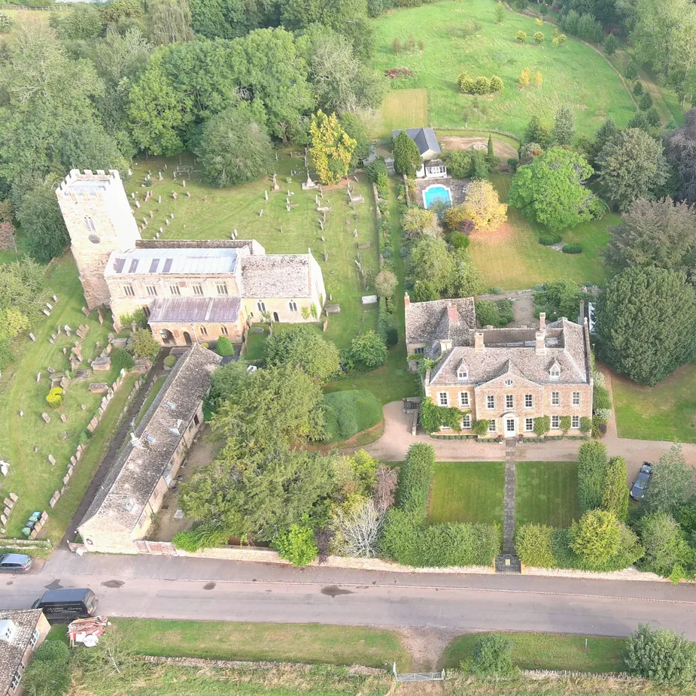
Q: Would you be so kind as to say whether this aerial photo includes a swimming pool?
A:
Yes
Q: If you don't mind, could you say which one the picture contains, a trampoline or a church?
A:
church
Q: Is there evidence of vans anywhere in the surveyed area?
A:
Yes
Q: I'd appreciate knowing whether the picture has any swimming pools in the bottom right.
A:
No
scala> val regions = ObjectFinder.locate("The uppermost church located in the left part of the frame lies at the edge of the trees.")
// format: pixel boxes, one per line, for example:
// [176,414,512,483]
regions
[48,161,334,348]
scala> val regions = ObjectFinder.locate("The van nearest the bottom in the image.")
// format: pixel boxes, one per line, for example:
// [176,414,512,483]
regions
[36,591,94,621]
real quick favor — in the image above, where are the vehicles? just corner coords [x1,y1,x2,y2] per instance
[36,591,94,621]
[631,464,654,496]
[0,553,32,574]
